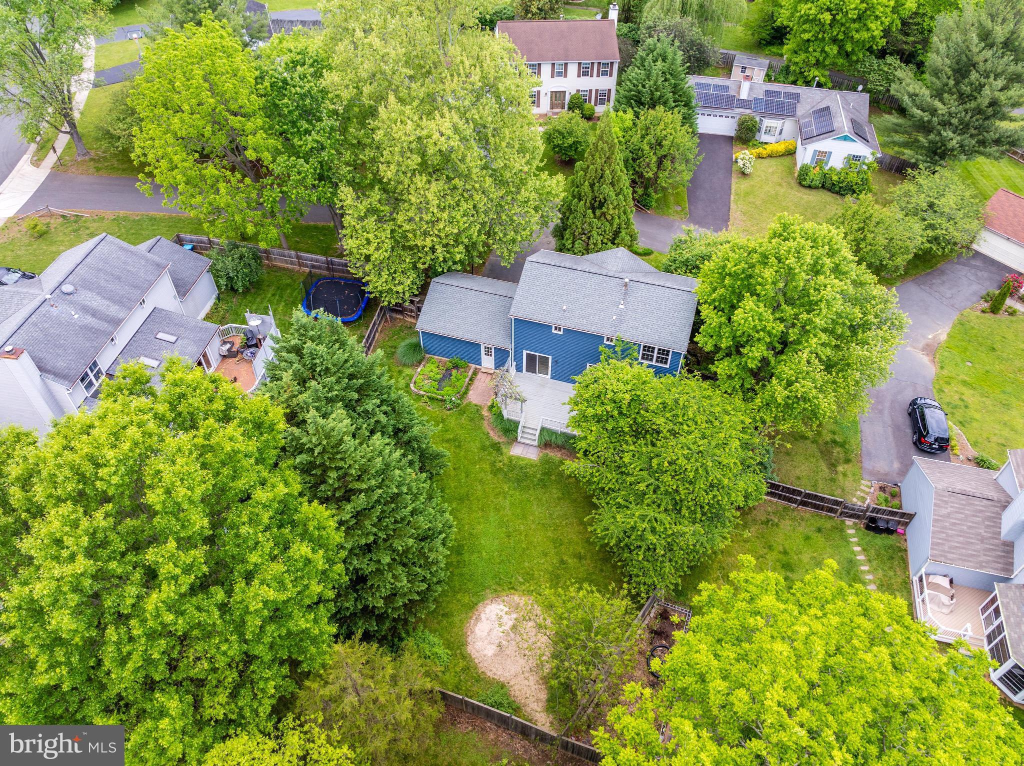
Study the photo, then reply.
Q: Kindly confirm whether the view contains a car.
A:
Yes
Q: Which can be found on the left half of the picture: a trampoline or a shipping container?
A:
trampoline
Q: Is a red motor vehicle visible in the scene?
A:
No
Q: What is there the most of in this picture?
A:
trees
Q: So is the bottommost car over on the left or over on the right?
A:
right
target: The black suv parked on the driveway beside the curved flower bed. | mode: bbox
[908,398,955,457]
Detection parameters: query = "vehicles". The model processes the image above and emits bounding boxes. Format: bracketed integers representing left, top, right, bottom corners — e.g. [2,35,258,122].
[0,261,41,278]
[908,398,955,457]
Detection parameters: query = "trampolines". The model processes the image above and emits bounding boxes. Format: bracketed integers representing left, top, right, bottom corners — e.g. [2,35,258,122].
[298,265,372,329]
